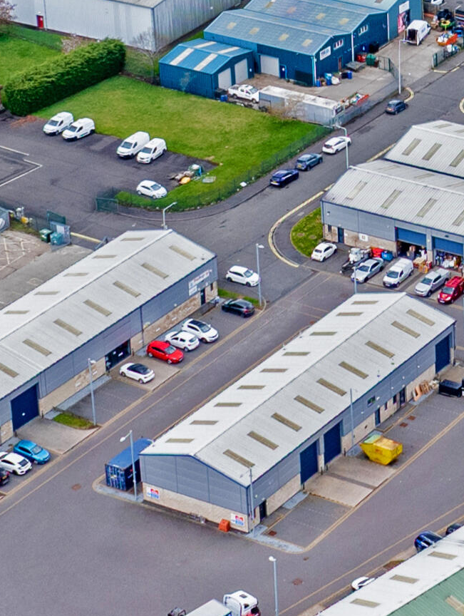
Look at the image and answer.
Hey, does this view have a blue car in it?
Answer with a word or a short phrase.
Yes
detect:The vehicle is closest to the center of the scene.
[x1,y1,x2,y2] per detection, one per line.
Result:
[220,299,256,317]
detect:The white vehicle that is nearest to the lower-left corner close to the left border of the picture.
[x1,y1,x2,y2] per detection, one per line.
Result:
[0,456,30,475]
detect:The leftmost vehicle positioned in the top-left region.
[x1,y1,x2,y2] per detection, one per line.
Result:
[45,113,72,134]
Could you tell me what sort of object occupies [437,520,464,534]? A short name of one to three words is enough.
vehicle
